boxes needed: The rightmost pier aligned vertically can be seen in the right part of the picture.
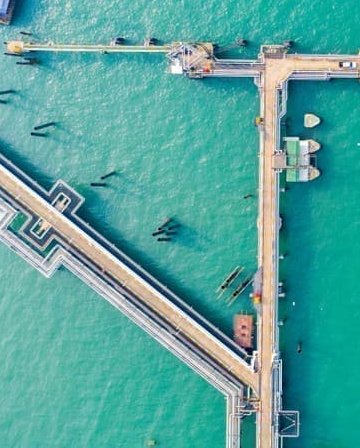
[252,82,304,448]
